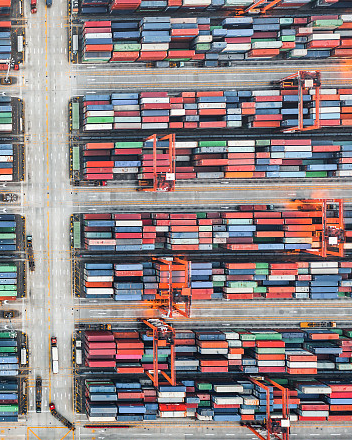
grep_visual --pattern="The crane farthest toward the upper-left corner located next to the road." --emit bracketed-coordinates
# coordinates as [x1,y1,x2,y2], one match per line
[135,134,176,194]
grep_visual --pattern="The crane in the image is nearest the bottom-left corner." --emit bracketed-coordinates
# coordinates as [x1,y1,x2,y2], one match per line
[137,320,175,388]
